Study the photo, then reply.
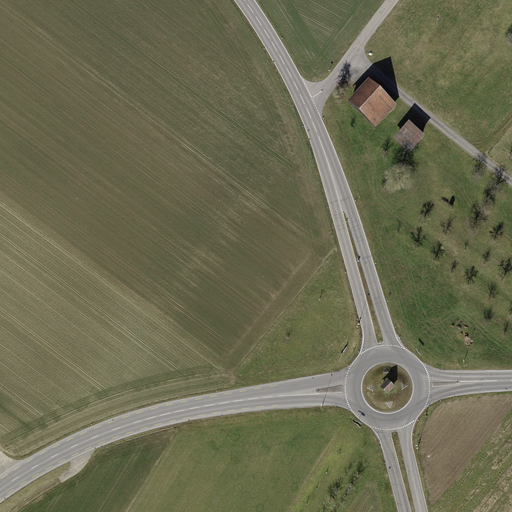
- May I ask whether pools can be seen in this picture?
No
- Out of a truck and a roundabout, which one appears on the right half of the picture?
roundabout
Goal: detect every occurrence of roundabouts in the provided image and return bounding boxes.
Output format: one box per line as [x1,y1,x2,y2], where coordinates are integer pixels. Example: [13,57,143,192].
[345,345,430,430]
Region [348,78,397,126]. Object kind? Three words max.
barn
